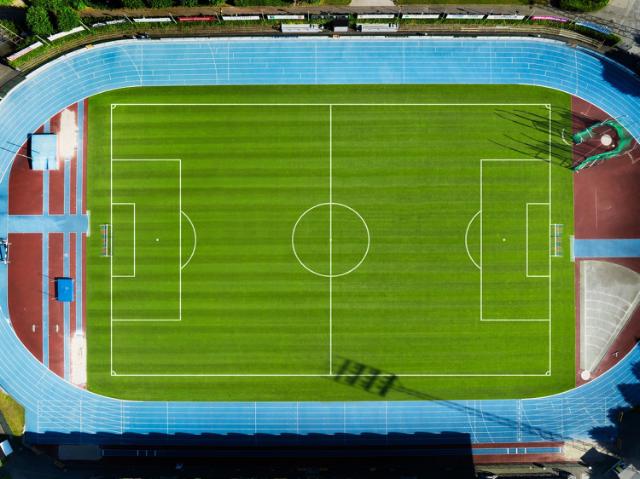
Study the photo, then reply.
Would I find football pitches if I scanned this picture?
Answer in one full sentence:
Yes, there's a football pitch down there.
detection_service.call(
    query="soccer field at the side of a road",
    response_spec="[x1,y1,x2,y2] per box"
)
[87,84,576,401]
